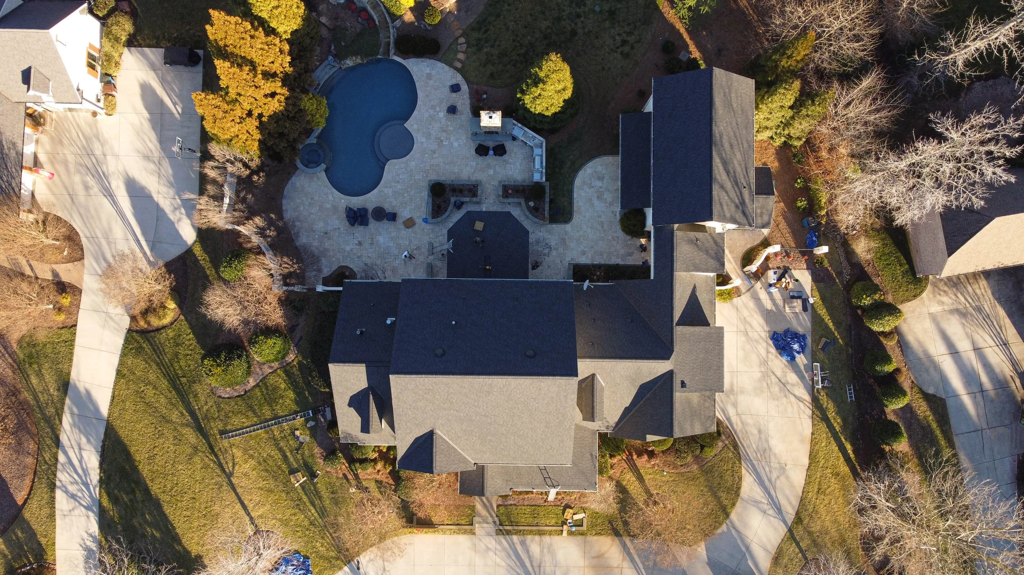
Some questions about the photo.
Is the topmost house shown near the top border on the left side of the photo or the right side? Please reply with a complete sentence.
You can find the topmost house shown near the top border on the left side of the picture.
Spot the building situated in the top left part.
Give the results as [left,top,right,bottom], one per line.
[0,1,104,213]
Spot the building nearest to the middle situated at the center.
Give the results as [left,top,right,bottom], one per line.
[328,67,778,500]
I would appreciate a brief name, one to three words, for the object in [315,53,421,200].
swimming pool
